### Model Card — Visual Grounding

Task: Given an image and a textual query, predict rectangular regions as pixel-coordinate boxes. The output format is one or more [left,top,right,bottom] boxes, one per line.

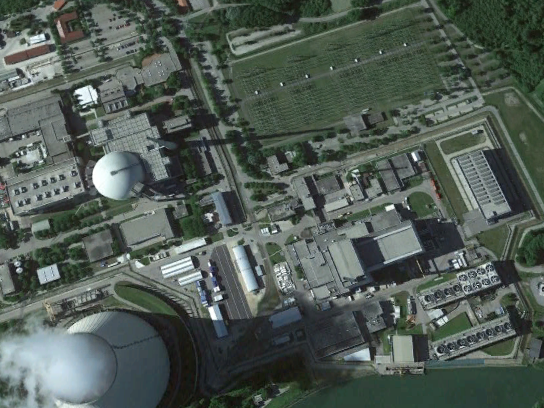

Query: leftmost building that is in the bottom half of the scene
[0,264,16,295]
